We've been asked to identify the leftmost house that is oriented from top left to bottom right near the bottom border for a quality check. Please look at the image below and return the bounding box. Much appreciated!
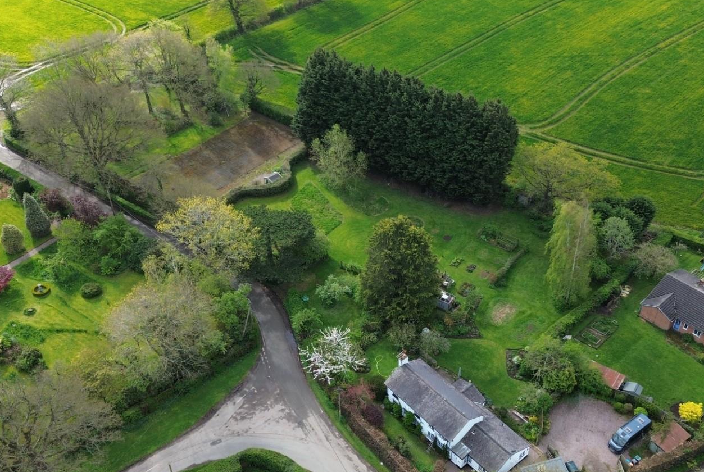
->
[384,352,529,472]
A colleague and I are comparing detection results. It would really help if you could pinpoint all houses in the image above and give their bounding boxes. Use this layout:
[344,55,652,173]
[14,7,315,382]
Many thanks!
[384,352,529,472]
[640,271,704,348]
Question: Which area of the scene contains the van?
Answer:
bottom right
